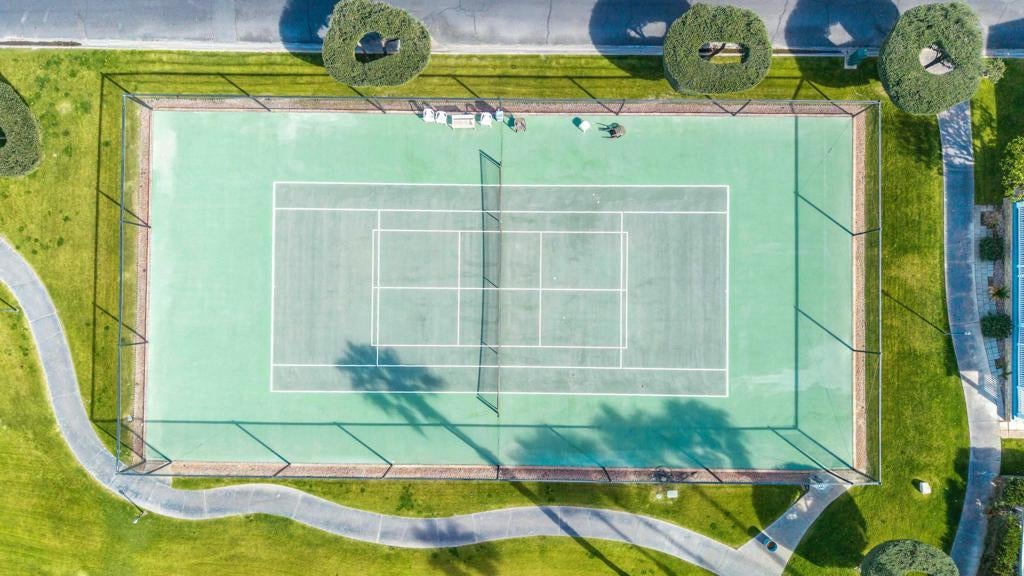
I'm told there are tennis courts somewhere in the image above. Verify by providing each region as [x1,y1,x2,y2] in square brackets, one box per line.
[143,108,857,473]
